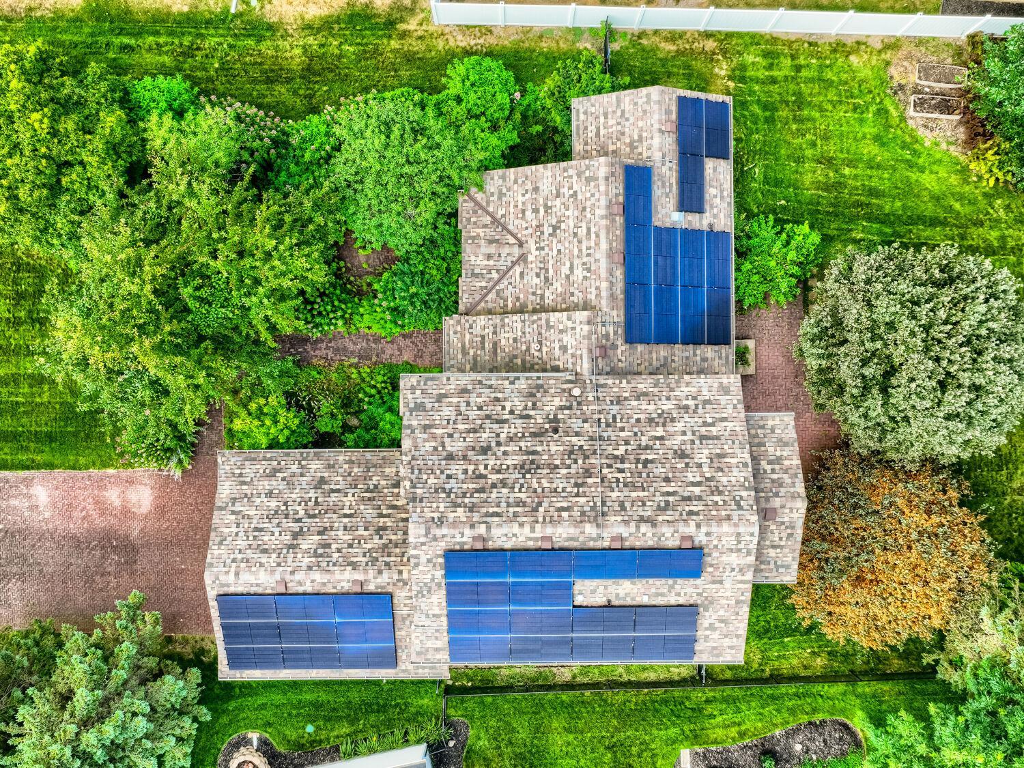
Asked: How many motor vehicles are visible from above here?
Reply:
0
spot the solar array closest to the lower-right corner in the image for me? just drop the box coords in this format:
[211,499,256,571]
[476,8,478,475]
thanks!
[442,550,705,665]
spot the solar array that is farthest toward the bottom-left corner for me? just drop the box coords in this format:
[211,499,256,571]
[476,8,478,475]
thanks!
[216,593,397,671]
